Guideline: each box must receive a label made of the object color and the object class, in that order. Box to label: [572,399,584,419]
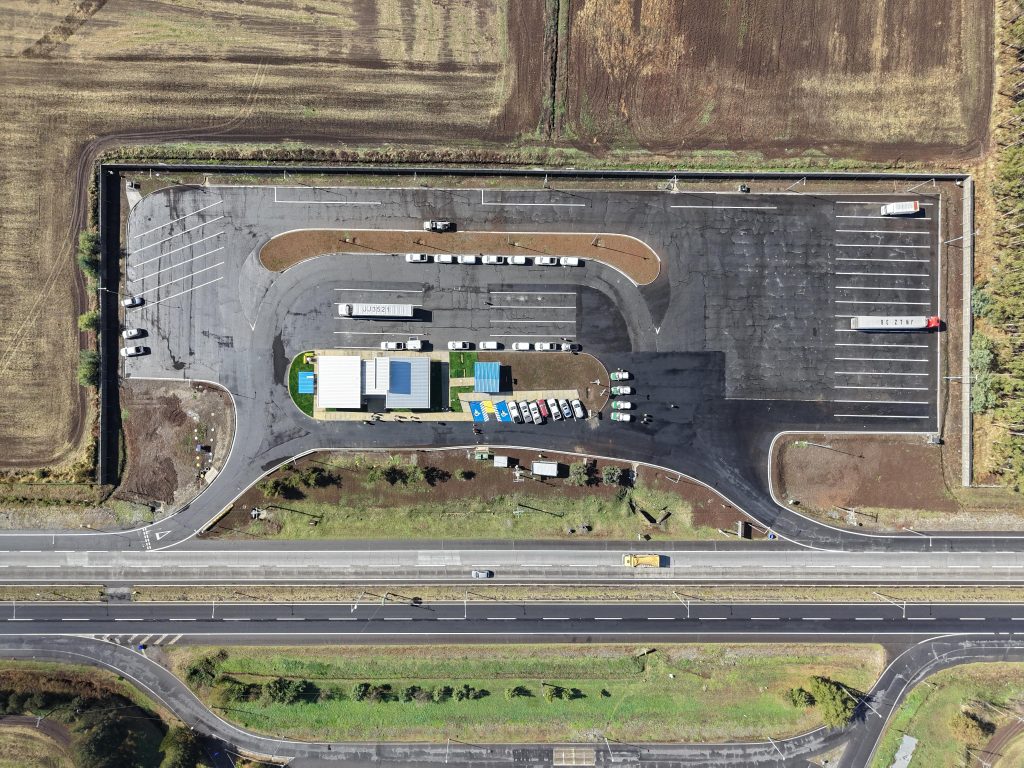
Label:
white vehicle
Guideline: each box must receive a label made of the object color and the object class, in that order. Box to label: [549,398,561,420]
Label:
white vehicle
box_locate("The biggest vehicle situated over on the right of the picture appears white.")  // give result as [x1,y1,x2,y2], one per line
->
[851,316,938,329]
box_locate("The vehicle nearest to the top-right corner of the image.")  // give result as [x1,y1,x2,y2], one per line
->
[881,201,919,217]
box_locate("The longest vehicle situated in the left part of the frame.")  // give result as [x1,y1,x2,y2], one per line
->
[340,304,413,317]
